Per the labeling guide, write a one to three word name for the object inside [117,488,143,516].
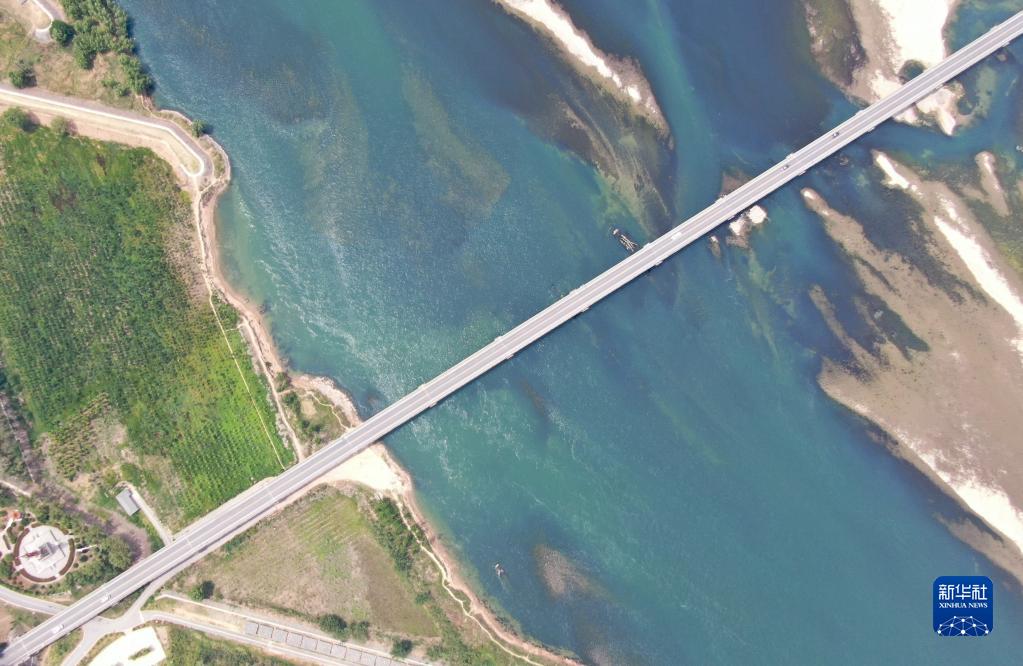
shed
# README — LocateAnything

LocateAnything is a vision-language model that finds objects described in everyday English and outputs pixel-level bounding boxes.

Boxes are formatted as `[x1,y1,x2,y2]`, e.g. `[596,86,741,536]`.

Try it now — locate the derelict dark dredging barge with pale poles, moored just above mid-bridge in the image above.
[611,227,635,251]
